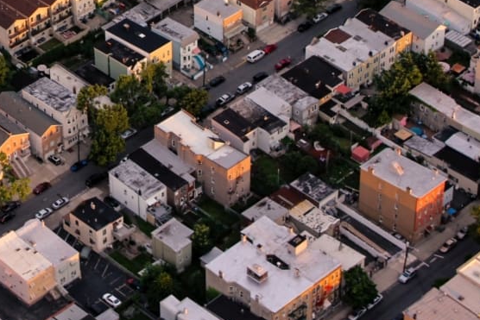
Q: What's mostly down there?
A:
buildings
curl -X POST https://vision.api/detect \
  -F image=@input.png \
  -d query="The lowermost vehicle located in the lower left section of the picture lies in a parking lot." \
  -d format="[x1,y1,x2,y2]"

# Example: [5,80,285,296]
[100,292,123,310]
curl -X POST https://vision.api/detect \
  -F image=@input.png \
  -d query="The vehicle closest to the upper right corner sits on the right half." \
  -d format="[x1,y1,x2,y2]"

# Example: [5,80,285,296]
[322,1,341,13]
